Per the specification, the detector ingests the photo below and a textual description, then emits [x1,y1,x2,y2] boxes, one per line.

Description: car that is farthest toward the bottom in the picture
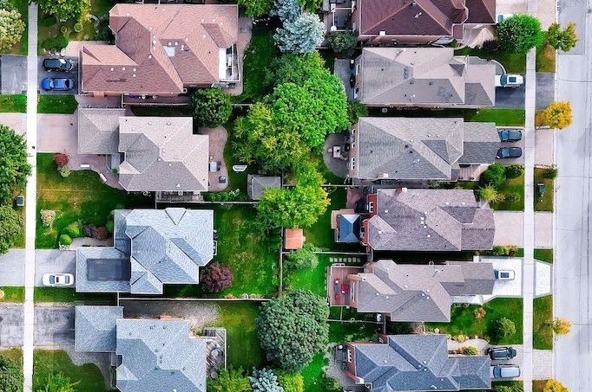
[491,364,522,379]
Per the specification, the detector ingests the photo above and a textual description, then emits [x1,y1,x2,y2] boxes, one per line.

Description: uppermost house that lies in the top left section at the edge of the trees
[81,3,241,96]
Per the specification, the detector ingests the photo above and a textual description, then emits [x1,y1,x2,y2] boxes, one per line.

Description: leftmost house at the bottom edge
[75,306,207,392]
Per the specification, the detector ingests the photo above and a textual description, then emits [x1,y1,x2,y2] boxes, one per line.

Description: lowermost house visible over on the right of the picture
[347,334,491,392]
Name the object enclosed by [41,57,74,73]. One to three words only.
car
